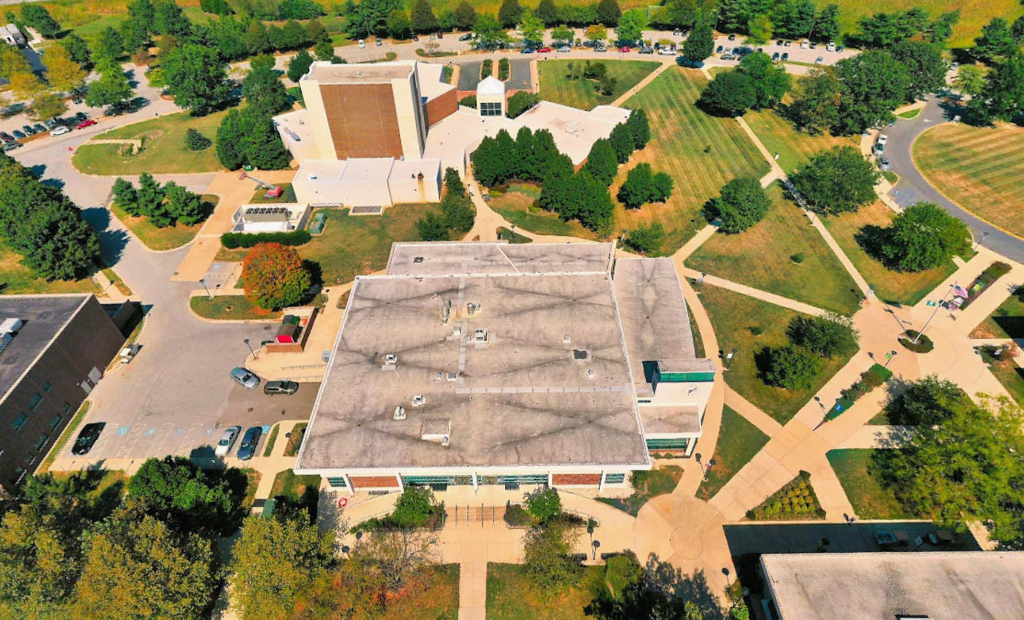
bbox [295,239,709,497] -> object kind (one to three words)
building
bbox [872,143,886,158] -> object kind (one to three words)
vehicle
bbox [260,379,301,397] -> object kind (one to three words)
car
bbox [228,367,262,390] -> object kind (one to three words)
car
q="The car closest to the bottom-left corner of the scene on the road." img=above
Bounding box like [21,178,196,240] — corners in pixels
[70,419,108,457]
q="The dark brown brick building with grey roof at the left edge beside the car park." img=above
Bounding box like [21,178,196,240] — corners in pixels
[0,294,140,519]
